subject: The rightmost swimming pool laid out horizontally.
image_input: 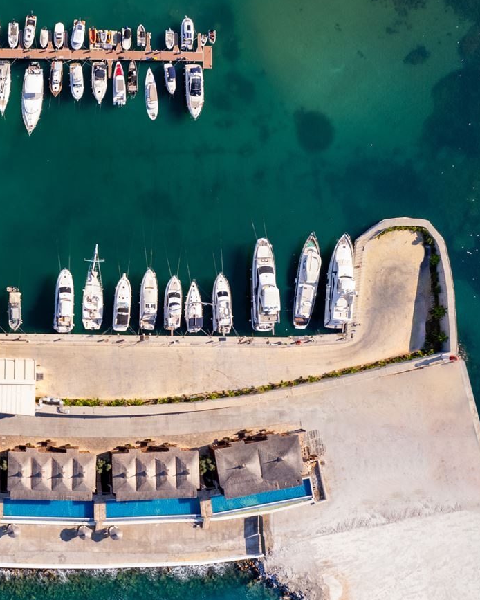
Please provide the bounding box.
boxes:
[211,476,314,521]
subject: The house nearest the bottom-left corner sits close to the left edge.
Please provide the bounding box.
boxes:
[9,448,96,501]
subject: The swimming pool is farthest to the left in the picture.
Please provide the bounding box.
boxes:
[2,493,94,526]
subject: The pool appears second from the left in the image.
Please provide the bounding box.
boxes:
[105,492,202,526]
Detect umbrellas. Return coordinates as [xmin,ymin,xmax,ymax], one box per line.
[109,525,123,539]
[6,522,21,536]
[79,525,92,539]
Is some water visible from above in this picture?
Yes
